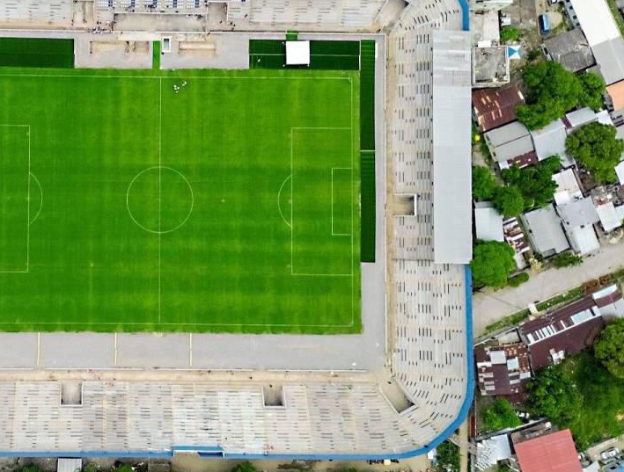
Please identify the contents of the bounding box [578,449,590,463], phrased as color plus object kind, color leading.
gray vehicle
